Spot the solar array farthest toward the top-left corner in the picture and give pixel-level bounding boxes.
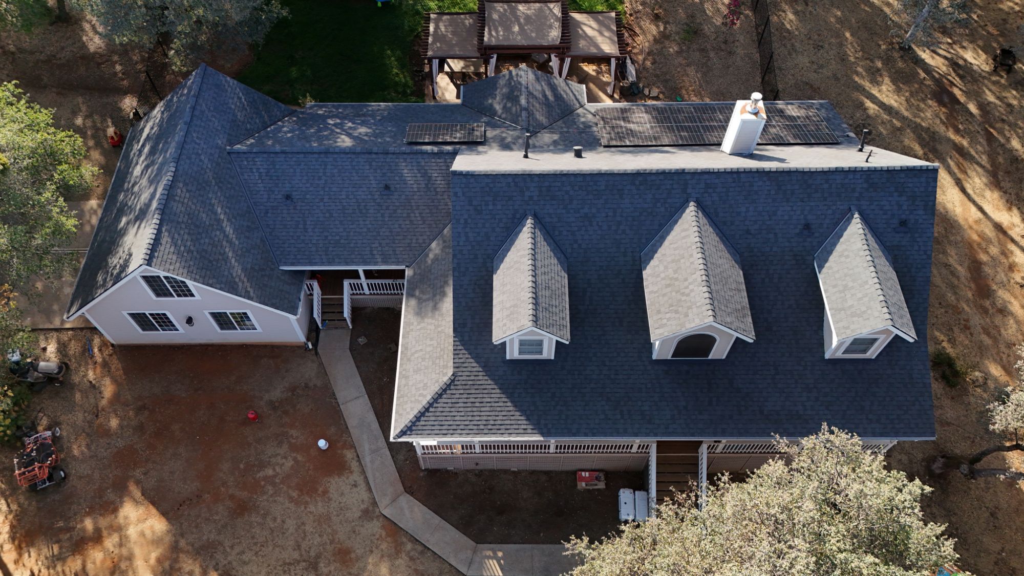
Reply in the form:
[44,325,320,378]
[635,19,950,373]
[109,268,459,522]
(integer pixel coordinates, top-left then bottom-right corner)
[403,120,486,143]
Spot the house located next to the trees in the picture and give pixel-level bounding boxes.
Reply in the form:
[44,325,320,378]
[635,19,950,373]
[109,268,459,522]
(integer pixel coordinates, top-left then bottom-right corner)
[61,63,939,524]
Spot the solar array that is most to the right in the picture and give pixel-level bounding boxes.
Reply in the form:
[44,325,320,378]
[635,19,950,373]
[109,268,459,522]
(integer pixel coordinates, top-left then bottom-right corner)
[591,104,846,146]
